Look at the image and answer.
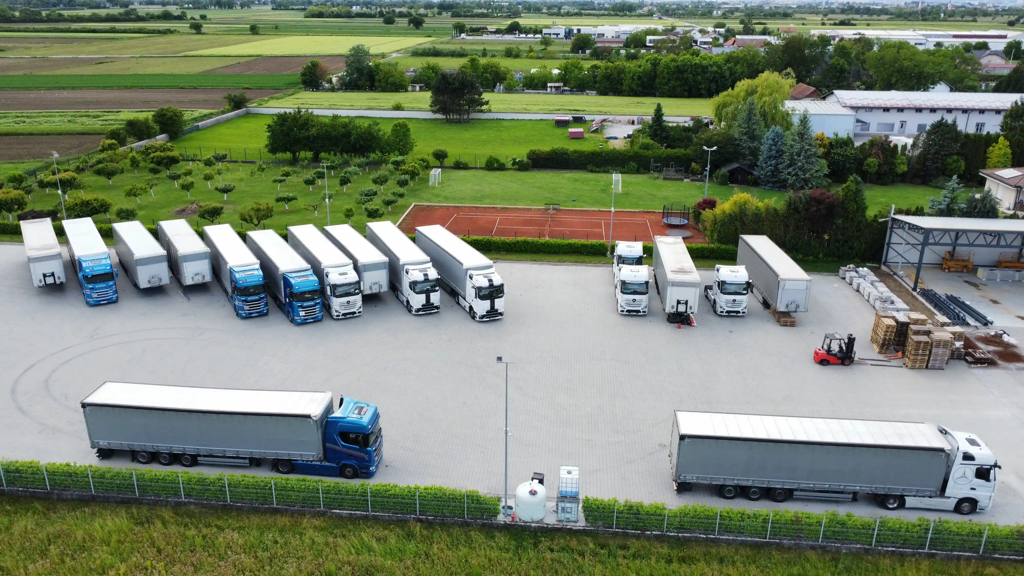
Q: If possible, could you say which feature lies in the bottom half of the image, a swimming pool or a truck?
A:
truck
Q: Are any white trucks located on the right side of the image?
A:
Yes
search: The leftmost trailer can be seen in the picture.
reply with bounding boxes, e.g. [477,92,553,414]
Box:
[21,219,66,288]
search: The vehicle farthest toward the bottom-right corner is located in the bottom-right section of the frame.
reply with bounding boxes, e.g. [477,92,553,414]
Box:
[875,426,1009,514]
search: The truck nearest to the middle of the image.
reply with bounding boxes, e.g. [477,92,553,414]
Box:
[454,264,508,318]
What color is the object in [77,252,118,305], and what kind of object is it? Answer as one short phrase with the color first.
blue truck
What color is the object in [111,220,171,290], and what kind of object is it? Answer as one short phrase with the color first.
white trailer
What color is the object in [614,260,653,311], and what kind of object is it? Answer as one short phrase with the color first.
white truck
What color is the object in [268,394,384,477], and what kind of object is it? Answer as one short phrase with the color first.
blue truck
